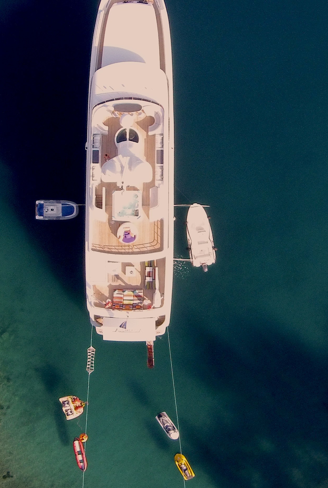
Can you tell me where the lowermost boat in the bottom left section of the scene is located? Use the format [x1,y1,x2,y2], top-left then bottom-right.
[73,436,88,471]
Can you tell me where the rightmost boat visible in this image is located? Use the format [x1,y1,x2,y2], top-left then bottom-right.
[188,204,219,271]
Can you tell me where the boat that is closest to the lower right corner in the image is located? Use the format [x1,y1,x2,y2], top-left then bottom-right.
[176,452,194,480]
